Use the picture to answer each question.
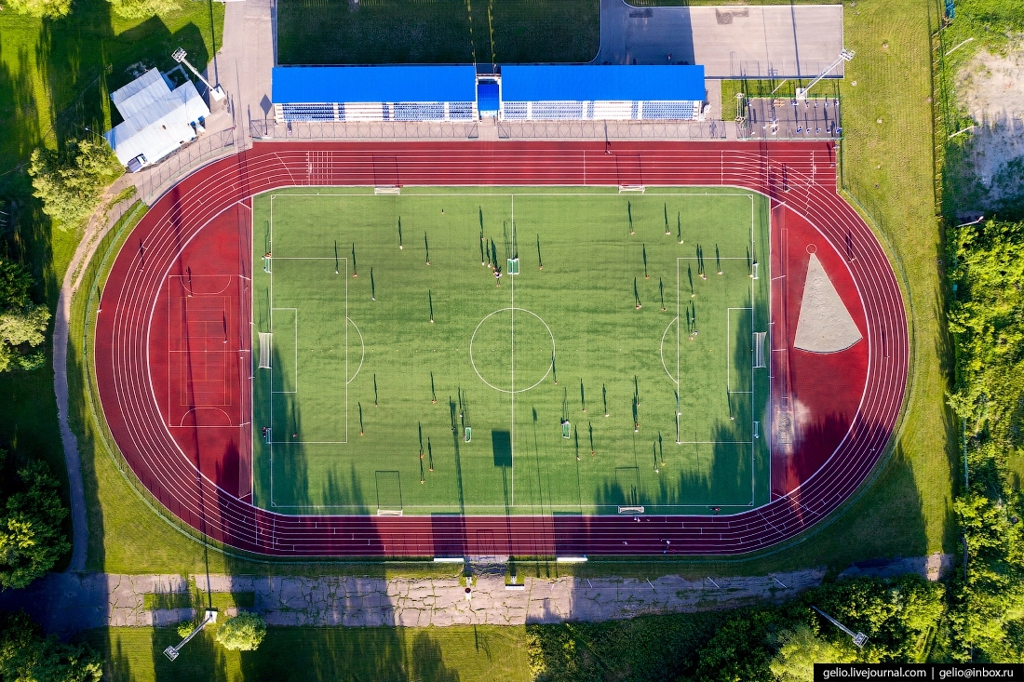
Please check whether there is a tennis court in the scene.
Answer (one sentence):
Yes, the image includes a tennis court.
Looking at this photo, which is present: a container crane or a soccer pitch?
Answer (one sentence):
The image shows a soccer pitch.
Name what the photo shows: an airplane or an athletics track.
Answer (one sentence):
I can see an athletics track in this picture.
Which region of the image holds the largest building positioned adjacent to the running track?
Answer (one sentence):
The largest building positioned adjacent to the running track is in the top left part of the image.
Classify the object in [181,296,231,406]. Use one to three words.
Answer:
tennis court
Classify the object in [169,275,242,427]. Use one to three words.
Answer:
basketball court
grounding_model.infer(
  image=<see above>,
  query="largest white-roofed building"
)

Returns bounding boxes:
[105,65,212,166]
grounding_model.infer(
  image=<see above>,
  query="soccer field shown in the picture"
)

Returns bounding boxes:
[252,185,771,515]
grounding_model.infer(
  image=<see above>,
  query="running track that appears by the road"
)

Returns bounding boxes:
[94,142,909,556]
